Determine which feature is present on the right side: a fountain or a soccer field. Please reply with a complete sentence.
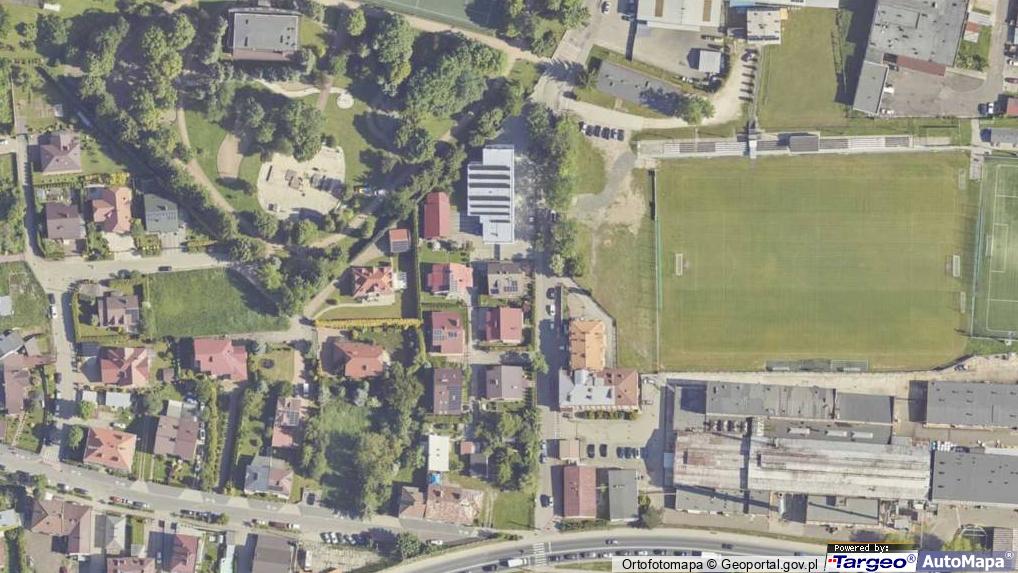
Visible on the right side is a soccer field.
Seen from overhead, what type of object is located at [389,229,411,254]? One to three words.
shed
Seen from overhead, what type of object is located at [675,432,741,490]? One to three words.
building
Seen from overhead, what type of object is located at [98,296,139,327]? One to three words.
house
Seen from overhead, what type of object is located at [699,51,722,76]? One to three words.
shed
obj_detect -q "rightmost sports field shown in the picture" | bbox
[973,152,1018,340]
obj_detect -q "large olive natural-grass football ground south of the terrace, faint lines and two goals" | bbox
[657,152,974,372]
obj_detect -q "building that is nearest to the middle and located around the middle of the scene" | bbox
[488,263,525,298]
